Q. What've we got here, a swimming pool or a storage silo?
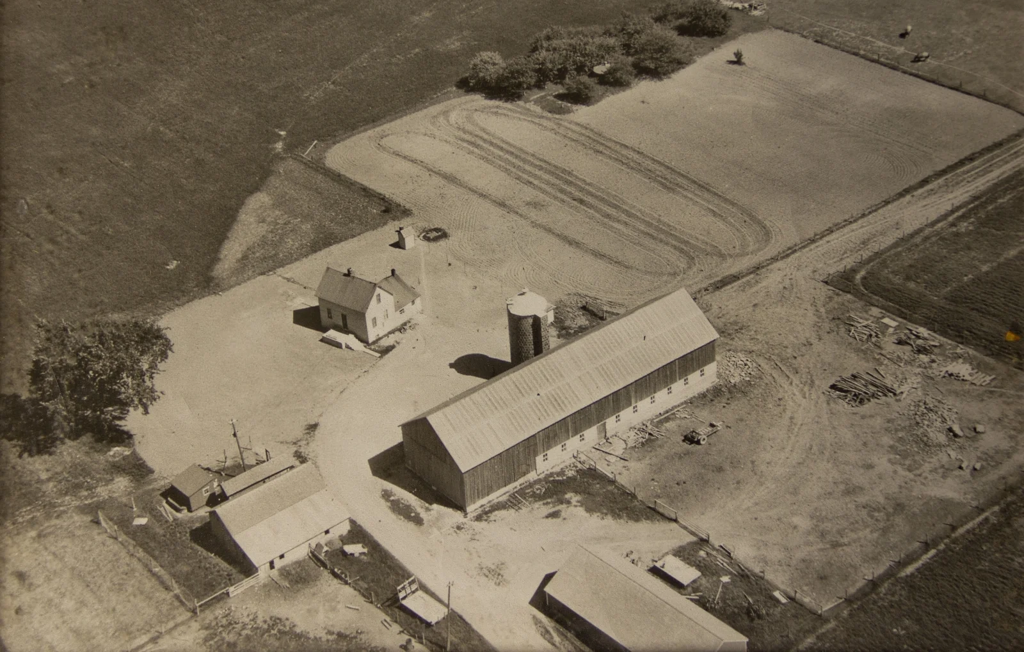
storage silo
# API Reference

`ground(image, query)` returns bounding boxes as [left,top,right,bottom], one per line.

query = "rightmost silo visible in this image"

[505,289,557,371]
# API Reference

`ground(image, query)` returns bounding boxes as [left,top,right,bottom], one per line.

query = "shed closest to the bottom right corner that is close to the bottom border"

[543,545,749,652]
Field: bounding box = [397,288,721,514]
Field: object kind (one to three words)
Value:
barn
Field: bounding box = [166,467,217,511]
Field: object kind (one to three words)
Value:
shed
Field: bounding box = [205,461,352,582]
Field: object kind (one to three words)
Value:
barn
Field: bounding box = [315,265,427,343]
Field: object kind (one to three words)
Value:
house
